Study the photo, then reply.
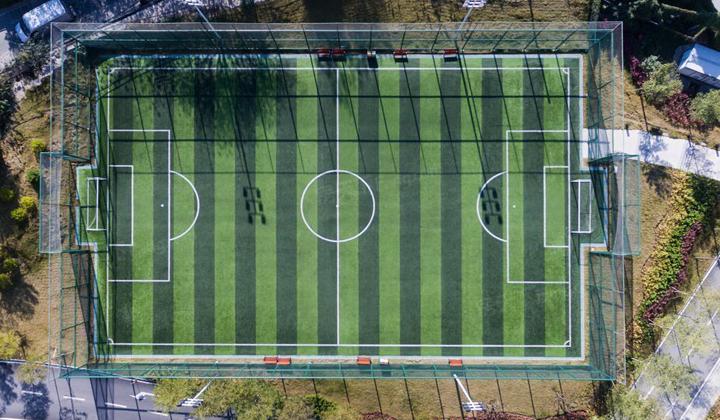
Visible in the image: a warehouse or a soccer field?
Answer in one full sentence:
The image shows a soccer field.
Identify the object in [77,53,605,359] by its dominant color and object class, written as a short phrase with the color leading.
green soccer field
